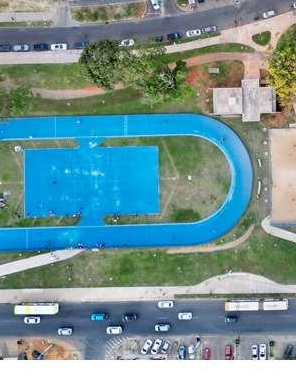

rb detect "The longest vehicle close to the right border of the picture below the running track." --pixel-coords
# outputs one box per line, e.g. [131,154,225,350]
[225,296,289,310]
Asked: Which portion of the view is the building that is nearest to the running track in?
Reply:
top right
